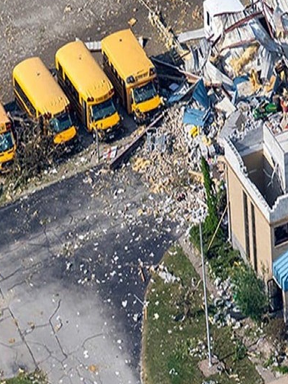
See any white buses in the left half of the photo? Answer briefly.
No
